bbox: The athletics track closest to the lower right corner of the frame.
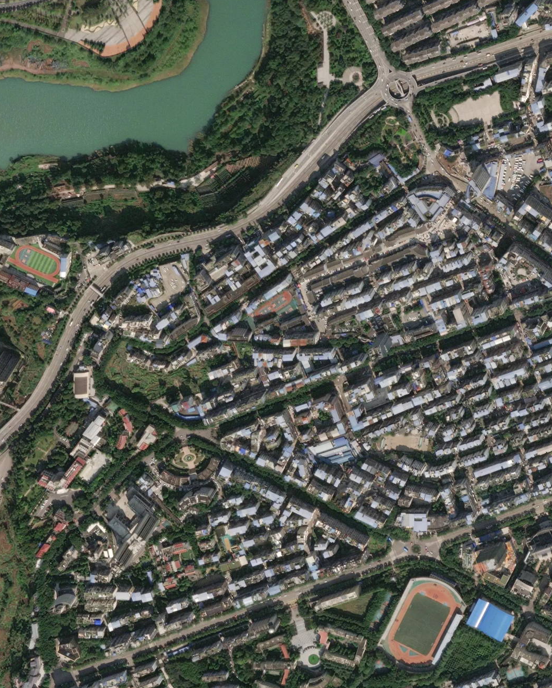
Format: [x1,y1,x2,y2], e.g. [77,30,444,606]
[388,582,460,665]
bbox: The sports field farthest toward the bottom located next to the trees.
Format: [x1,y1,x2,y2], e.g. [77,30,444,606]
[395,592,450,655]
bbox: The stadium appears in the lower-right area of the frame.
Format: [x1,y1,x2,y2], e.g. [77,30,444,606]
[379,577,465,669]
